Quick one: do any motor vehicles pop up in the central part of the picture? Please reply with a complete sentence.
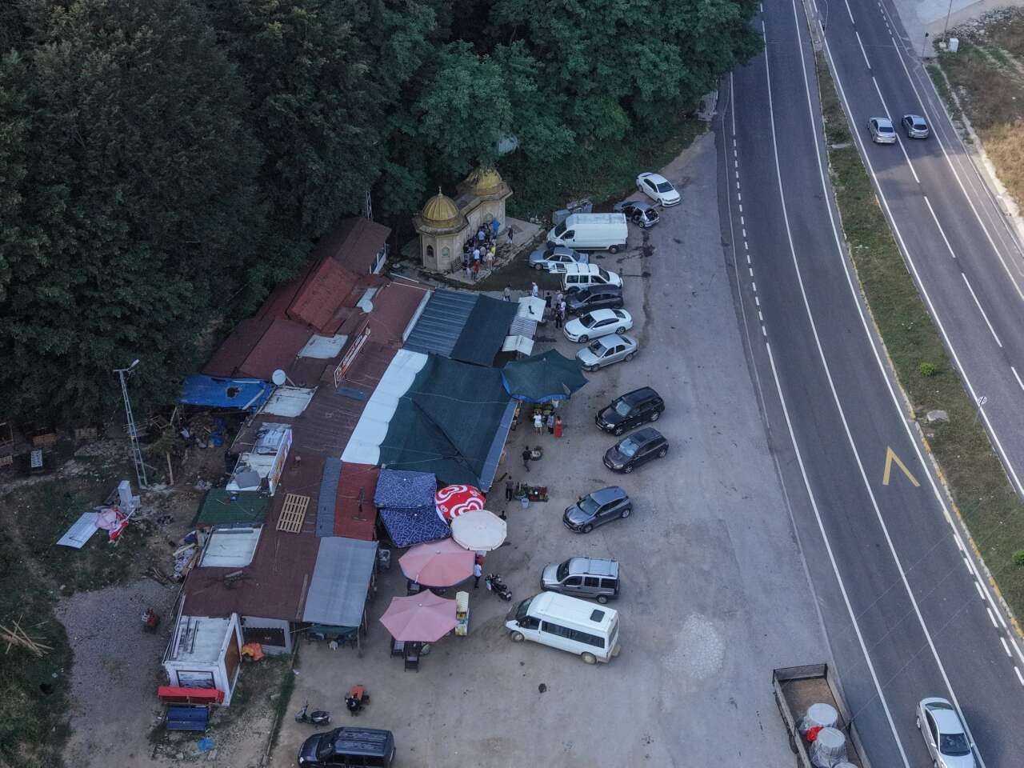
Yes, in the central part of the picture there is a motor vehicle.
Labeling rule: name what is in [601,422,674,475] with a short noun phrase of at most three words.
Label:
car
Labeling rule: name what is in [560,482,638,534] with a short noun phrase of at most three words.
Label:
car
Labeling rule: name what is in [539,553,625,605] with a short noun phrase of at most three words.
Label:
vehicle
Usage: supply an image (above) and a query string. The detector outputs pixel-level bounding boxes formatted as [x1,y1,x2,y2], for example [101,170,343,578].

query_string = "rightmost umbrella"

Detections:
[501,349,588,404]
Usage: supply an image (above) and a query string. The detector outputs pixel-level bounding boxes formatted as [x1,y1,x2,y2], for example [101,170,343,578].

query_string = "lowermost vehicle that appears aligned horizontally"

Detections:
[298,724,397,768]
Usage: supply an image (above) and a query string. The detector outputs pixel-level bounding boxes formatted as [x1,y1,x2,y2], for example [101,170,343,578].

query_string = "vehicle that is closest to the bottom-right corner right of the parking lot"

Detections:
[911,688,984,768]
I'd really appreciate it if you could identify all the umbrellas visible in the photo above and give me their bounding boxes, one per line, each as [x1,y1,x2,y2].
[379,506,449,549]
[501,349,588,404]
[376,470,437,508]
[399,533,476,591]
[448,508,508,567]
[436,489,487,525]
[376,585,461,646]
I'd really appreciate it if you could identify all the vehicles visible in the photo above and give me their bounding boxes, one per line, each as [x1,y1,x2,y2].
[607,195,669,229]
[592,384,669,437]
[773,663,866,768]
[899,110,929,135]
[545,258,621,293]
[571,332,645,373]
[863,113,895,141]
[560,482,638,534]
[544,208,628,253]
[525,242,591,271]
[562,306,635,344]
[564,277,630,317]
[485,568,510,601]
[539,553,625,605]
[911,688,984,768]
[601,422,674,475]
[502,588,624,665]
[298,724,397,768]
[291,695,332,724]
[633,171,683,206]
